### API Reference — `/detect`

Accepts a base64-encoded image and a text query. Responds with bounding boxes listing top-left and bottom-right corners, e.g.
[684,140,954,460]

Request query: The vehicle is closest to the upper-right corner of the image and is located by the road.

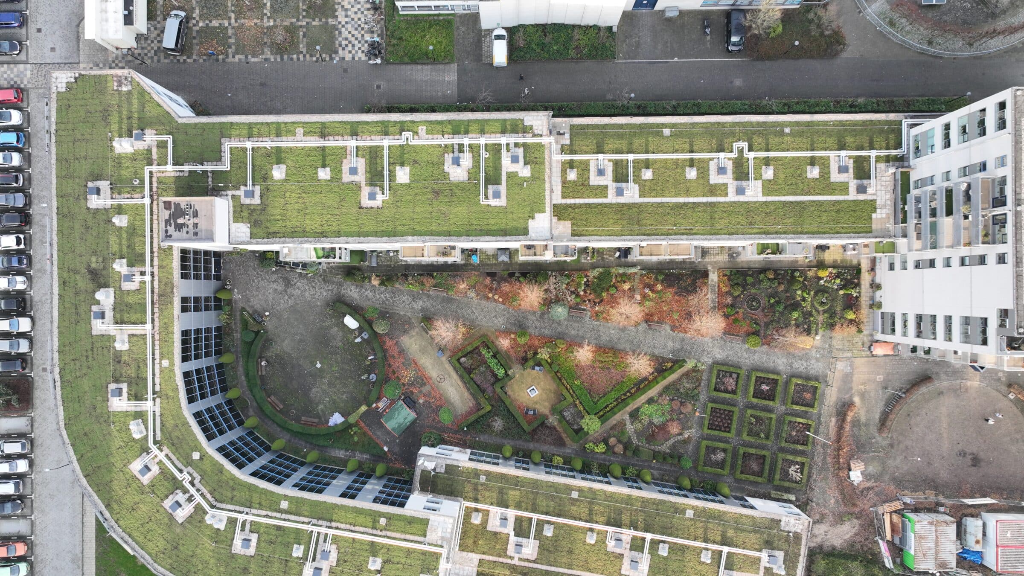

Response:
[726,7,748,53]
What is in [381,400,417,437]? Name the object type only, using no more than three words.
shed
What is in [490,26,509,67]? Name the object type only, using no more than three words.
vehicle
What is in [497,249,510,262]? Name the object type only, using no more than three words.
gazebo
